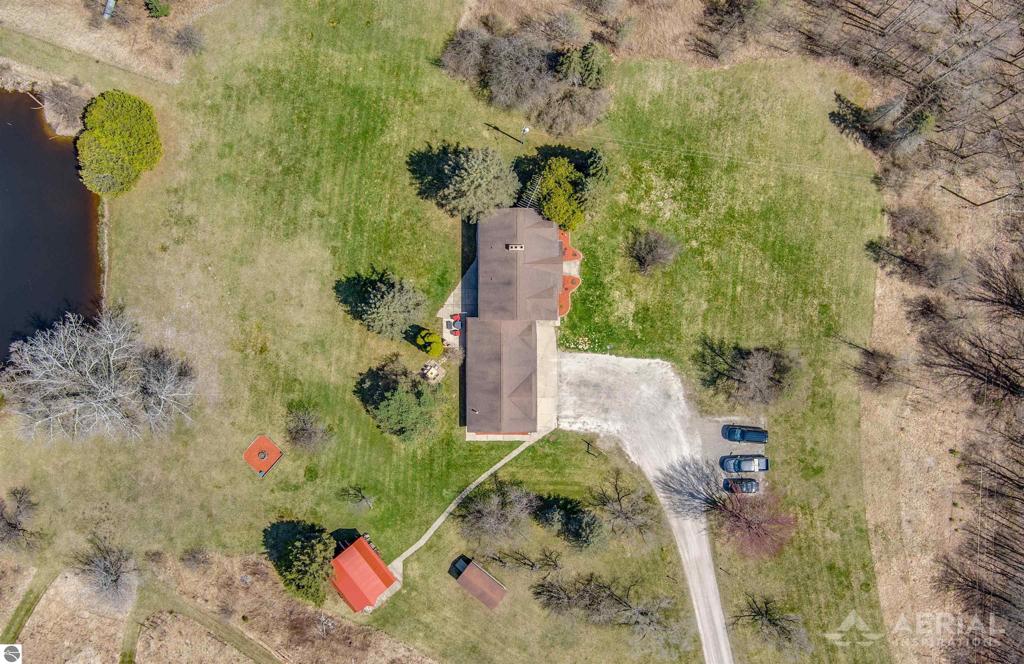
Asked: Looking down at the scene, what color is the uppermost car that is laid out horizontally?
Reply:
blue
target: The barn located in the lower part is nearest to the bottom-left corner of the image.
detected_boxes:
[322,537,396,613]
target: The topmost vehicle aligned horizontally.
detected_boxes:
[725,426,768,446]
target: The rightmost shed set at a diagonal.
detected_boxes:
[453,558,508,609]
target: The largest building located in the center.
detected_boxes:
[466,207,563,433]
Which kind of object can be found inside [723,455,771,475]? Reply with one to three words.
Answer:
vehicle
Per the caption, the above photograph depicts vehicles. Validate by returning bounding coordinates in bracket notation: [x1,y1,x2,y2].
[726,478,760,494]
[723,455,771,475]
[725,426,768,446]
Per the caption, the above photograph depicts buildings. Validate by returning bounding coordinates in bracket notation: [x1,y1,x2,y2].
[466,207,563,433]
[453,558,508,609]
[322,537,396,613]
